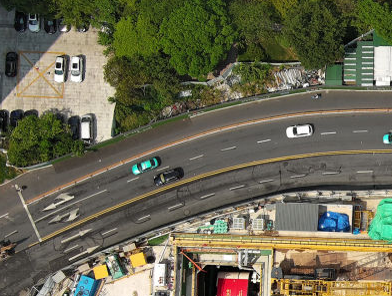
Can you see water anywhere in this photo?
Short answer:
No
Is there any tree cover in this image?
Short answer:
Yes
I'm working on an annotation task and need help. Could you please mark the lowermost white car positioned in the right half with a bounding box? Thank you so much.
[284,123,313,137]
